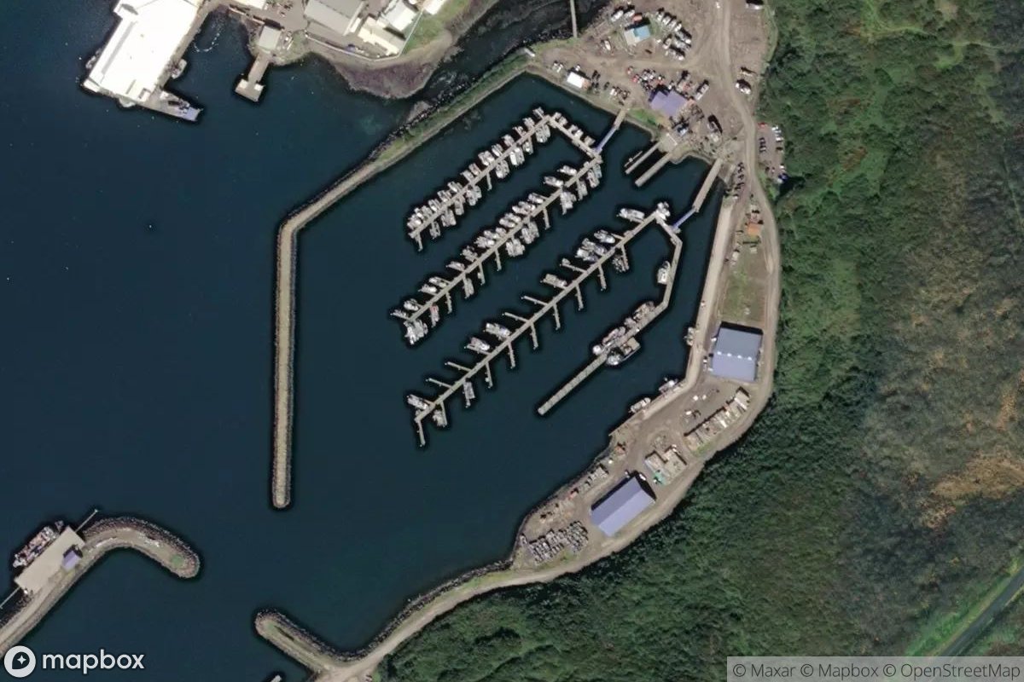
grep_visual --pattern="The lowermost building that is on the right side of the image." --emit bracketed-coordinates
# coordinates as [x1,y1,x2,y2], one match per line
[592,477,655,538]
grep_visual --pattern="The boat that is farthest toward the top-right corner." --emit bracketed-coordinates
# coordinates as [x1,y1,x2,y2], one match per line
[732,79,749,94]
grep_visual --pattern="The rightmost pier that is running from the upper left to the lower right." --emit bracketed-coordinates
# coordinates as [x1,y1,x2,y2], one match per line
[547,115,600,160]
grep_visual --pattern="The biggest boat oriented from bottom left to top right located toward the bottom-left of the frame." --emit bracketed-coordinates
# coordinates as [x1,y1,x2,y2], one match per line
[19,526,57,565]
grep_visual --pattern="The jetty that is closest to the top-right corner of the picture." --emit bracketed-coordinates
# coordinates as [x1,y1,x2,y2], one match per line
[692,156,728,210]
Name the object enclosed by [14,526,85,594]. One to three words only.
pier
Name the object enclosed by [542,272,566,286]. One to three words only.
boat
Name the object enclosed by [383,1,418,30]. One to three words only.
building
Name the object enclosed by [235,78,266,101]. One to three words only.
pier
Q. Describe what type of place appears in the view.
port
